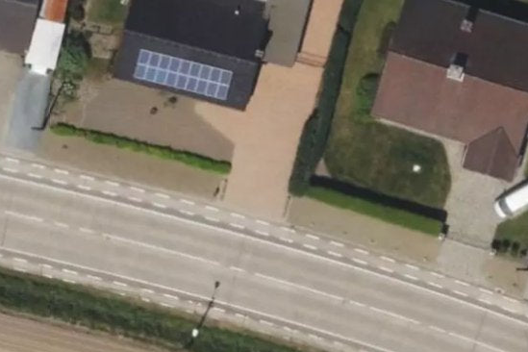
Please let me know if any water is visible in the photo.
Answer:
No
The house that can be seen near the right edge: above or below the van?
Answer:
above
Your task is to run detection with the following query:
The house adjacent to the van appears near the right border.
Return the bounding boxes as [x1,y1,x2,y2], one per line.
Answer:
[372,0,528,184]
